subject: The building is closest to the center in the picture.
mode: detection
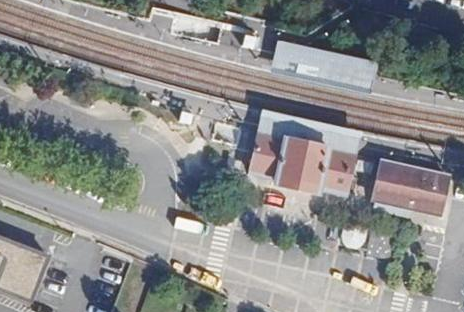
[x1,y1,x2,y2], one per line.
[208,118,244,148]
